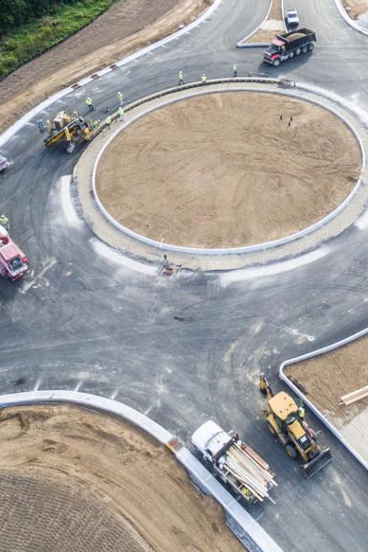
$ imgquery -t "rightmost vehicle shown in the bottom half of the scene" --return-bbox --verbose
[258,374,335,479]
